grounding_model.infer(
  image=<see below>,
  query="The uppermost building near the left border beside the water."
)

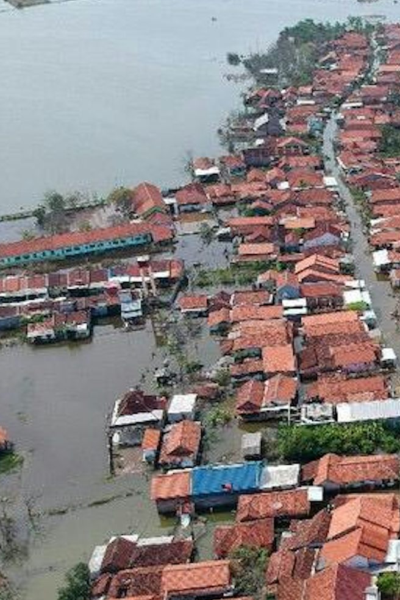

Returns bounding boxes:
[0,223,154,267]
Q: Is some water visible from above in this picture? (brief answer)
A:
Yes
